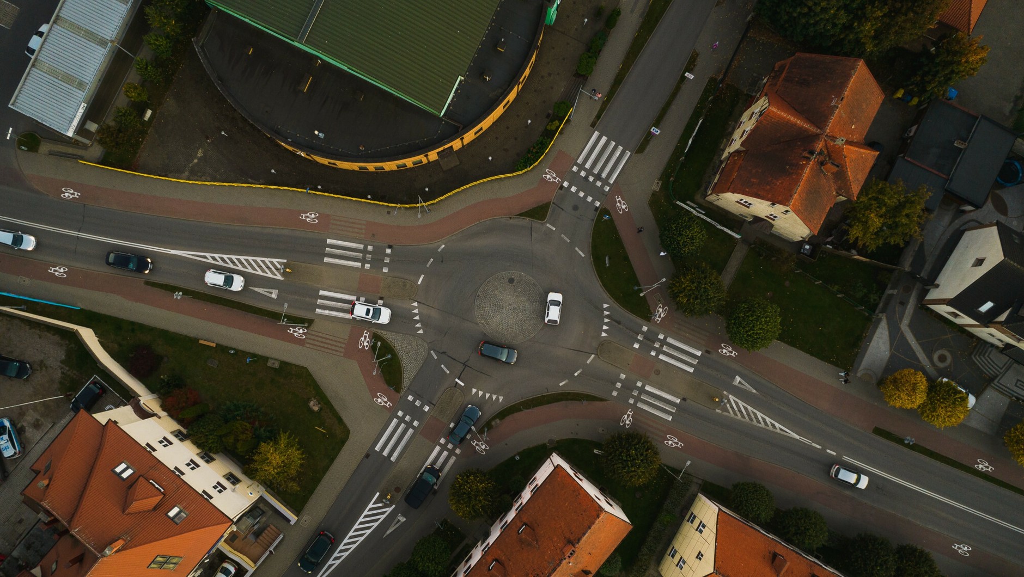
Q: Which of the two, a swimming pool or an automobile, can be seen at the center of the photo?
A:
automobile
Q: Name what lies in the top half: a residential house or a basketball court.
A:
residential house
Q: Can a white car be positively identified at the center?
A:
Yes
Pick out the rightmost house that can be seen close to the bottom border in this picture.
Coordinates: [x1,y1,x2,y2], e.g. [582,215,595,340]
[659,494,844,577]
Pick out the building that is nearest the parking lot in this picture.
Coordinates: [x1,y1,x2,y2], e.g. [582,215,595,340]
[21,403,259,577]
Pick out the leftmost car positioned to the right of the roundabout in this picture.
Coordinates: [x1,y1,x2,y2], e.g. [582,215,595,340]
[545,292,563,325]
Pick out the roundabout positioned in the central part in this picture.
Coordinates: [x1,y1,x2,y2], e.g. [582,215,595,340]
[475,272,546,343]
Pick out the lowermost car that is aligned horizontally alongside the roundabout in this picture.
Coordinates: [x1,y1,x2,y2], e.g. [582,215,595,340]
[477,341,518,364]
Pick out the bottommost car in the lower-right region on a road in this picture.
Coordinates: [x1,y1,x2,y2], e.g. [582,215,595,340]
[828,463,868,489]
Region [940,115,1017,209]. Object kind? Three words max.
building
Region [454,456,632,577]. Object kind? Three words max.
house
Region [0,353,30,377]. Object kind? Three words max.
car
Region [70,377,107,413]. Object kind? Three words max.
car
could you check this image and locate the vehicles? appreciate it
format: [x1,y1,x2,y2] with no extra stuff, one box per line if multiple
[211,555,238,577]
[828,463,868,489]
[545,292,563,325]
[0,230,38,251]
[301,529,333,573]
[477,341,518,364]
[0,353,30,377]
[22,21,46,58]
[405,462,440,512]
[203,270,247,291]
[350,301,393,323]
[0,416,24,461]
[448,403,480,445]
[70,377,107,413]
[867,135,888,171]
[106,252,155,274]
